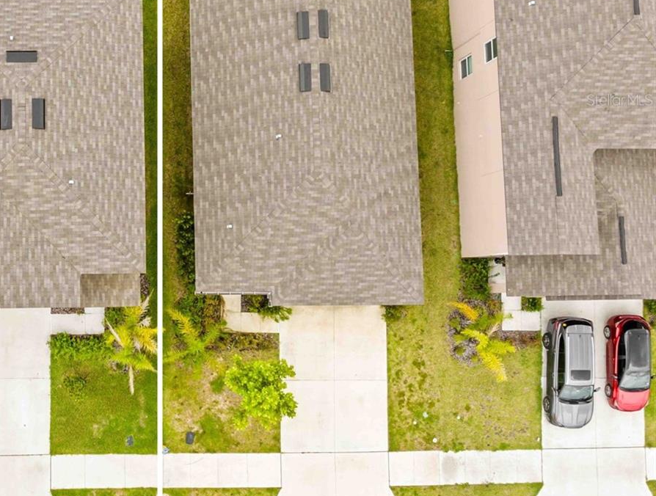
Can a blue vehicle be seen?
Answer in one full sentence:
No, no blue vehicle is visible in the view.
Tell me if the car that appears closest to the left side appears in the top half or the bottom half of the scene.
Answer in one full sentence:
You can find the car that appears closest to the left side in the bottom half.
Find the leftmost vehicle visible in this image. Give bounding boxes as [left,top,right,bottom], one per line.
[539,316,602,431]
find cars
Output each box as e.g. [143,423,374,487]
[539,316,602,431]
[599,312,656,411]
